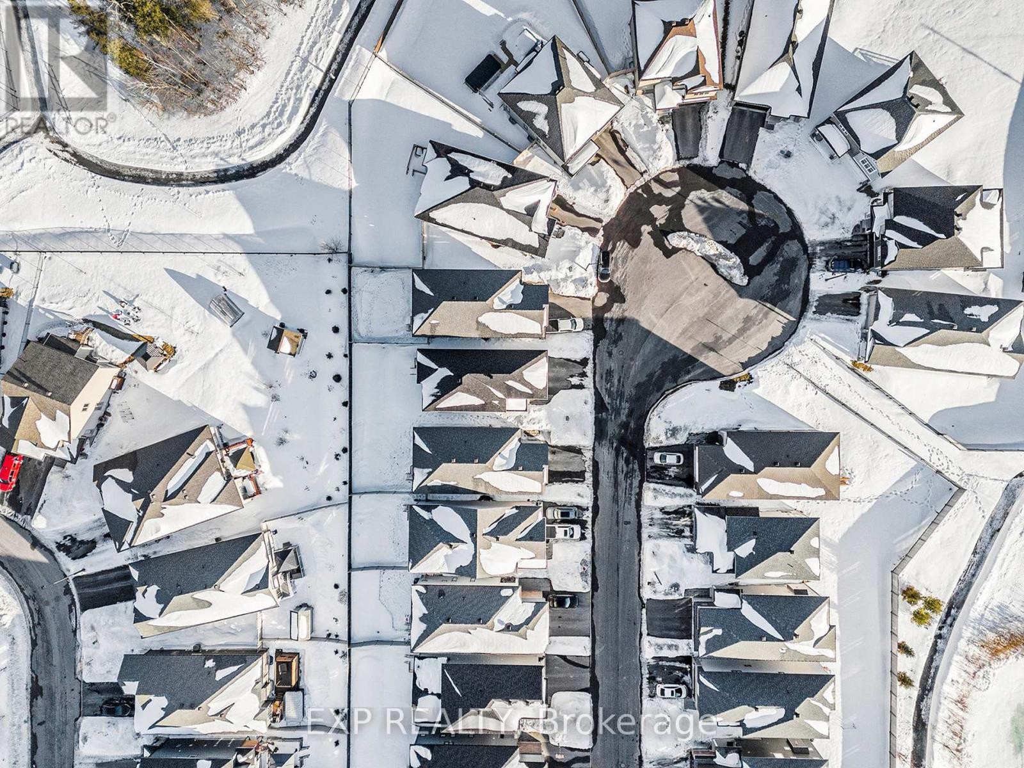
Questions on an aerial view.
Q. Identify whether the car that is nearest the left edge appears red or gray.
red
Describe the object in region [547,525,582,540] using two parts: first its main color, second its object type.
white vehicle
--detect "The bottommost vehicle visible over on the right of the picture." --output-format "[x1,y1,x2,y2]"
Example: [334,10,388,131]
[656,683,686,699]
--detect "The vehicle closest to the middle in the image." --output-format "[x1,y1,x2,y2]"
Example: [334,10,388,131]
[548,316,585,331]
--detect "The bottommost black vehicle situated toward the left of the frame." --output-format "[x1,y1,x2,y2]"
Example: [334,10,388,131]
[100,698,131,715]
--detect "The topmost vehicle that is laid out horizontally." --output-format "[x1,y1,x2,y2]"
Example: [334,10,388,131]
[827,256,866,271]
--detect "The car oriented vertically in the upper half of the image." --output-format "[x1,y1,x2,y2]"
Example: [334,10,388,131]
[597,250,611,281]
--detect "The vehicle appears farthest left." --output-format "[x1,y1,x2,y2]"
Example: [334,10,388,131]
[0,456,22,489]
